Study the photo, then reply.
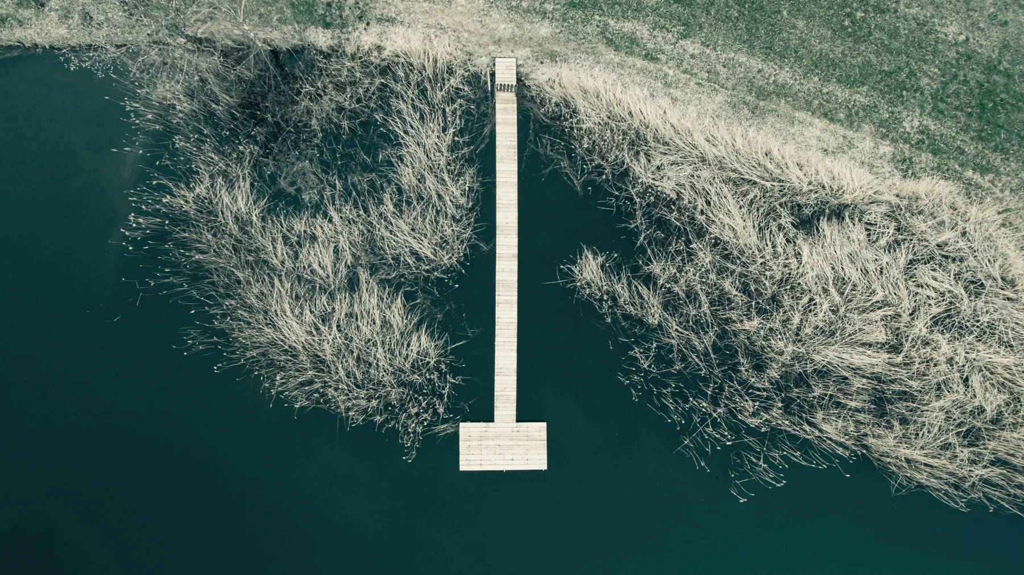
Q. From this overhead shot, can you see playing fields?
No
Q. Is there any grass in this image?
Yes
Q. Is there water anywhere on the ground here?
Yes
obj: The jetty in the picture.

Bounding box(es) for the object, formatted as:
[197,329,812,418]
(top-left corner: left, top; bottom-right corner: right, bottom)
[459,58,547,473]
